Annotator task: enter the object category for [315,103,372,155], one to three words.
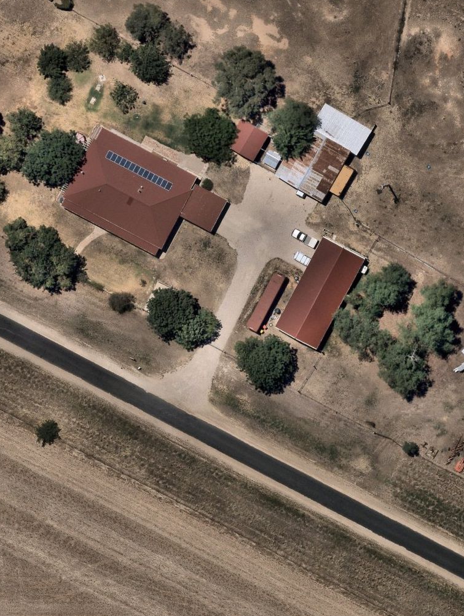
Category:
shed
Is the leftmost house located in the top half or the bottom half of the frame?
top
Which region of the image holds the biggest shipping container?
center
